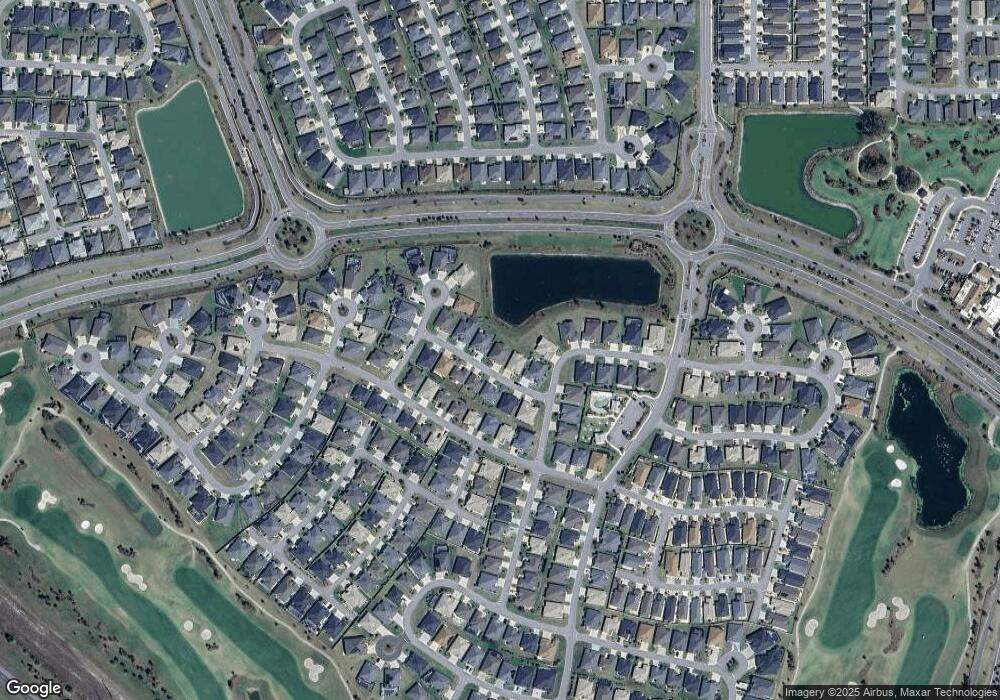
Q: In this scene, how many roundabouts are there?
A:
2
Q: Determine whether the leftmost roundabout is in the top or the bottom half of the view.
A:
top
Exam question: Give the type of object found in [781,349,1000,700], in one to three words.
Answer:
golf course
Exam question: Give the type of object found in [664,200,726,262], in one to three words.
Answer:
roundabout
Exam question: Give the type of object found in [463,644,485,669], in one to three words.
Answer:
house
